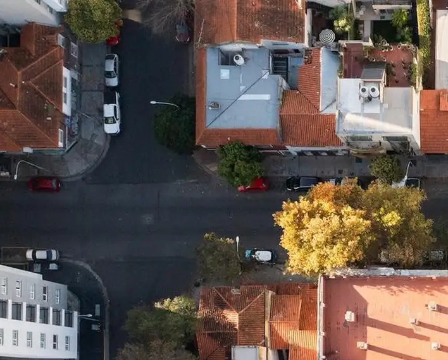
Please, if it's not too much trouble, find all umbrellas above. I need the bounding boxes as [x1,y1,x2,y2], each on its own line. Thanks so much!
[319,30,334,44]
